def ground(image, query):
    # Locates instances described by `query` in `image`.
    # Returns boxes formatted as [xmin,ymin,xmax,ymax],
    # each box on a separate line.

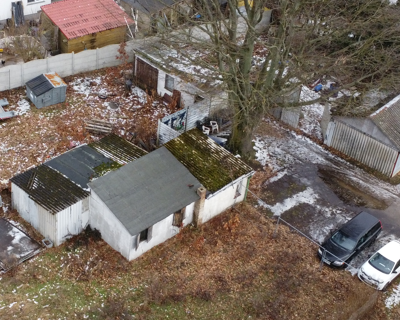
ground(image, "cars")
[357,236,400,290]
[316,210,386,271]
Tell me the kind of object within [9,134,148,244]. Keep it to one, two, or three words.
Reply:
shed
